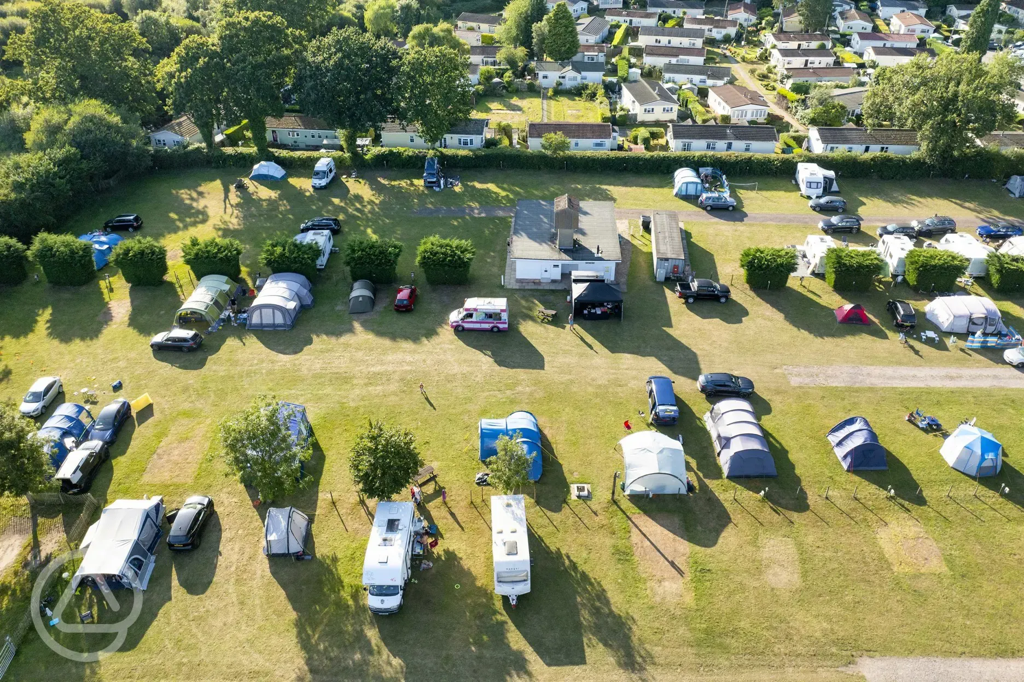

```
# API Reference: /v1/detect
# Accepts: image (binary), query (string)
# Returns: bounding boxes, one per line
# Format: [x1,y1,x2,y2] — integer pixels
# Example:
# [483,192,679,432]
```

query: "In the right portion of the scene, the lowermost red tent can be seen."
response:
[835,306,871,326]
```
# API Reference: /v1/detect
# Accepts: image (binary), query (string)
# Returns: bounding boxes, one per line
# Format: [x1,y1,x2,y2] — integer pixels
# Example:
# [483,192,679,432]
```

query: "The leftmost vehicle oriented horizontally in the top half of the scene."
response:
[98,212,146,232]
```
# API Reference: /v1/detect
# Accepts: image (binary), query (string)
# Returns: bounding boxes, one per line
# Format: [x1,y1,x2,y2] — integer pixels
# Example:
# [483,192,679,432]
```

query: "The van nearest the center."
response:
[446,294,509,332]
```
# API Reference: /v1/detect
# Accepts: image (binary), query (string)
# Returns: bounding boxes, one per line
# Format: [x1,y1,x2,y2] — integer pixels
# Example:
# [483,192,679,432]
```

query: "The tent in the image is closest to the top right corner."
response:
[1000,175,1024,197]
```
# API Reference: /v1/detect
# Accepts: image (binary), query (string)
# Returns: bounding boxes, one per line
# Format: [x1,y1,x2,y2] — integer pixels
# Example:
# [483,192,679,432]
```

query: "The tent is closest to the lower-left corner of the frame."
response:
[66,494,164,599]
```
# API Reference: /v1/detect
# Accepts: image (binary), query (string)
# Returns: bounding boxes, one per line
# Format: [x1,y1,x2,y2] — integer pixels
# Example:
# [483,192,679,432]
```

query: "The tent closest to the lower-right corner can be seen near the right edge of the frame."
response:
[923,431,1019,496]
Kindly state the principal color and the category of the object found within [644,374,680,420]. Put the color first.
blue vehicle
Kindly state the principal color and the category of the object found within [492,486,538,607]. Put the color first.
white camper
